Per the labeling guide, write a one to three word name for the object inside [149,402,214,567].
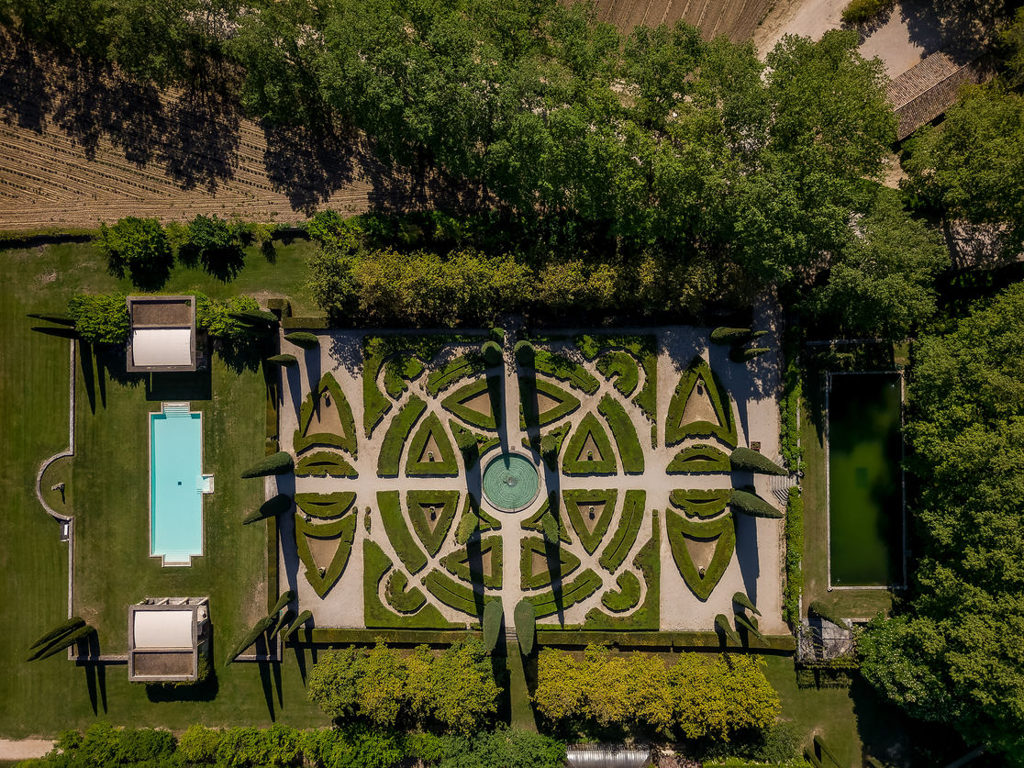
swimming pool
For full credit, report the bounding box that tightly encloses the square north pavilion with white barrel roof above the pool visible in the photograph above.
[127,296,206,372]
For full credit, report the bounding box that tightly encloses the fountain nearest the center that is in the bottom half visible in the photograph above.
[480,450,542,512]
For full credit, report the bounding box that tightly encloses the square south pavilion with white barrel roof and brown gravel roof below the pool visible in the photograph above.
[128,598,208,681]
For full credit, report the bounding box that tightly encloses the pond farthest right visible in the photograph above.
[826,371,907,590]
